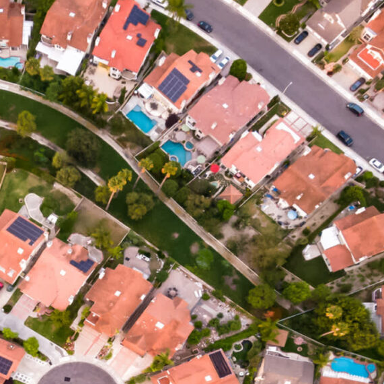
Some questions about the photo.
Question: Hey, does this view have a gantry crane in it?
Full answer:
No, the frame has no gantry crane in it.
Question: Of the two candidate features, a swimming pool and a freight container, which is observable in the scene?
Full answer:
The image shows a swimming pool.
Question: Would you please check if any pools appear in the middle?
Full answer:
Yes, a pool is visible in the middle.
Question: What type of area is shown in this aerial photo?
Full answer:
The picture captures a residential area.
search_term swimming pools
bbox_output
[125,104,159,135]
[231,338,253,368]
[160,138,195,167]
[0,56,25,71]
[329,355,377,379]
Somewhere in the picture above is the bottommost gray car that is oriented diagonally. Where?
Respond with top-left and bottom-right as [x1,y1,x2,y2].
[2,280,19,295]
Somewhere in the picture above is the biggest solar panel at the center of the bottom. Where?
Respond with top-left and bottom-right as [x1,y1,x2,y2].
[209,348,232,377]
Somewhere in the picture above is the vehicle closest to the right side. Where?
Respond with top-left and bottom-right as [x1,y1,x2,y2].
[369,159,384,173]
